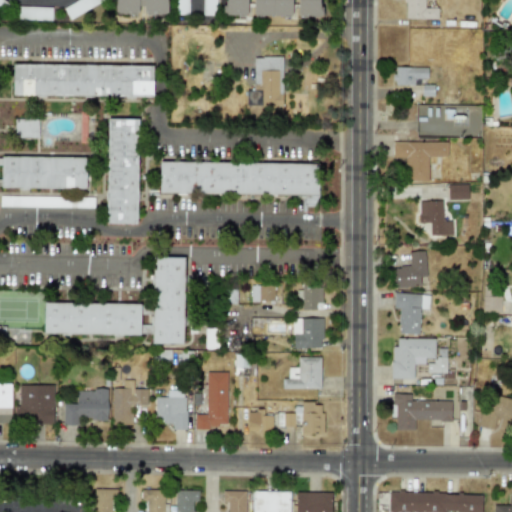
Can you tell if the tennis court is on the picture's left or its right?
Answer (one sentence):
The tennis court appears in the left half of the scene.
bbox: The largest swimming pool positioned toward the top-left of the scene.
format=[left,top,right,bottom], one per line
[46,118,78,136]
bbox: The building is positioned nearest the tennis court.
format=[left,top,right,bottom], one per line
[45,302,143,336]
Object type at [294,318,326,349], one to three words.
house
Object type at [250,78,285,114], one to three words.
house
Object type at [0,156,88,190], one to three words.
building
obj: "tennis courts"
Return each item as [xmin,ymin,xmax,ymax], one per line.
[0,291,45,328]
